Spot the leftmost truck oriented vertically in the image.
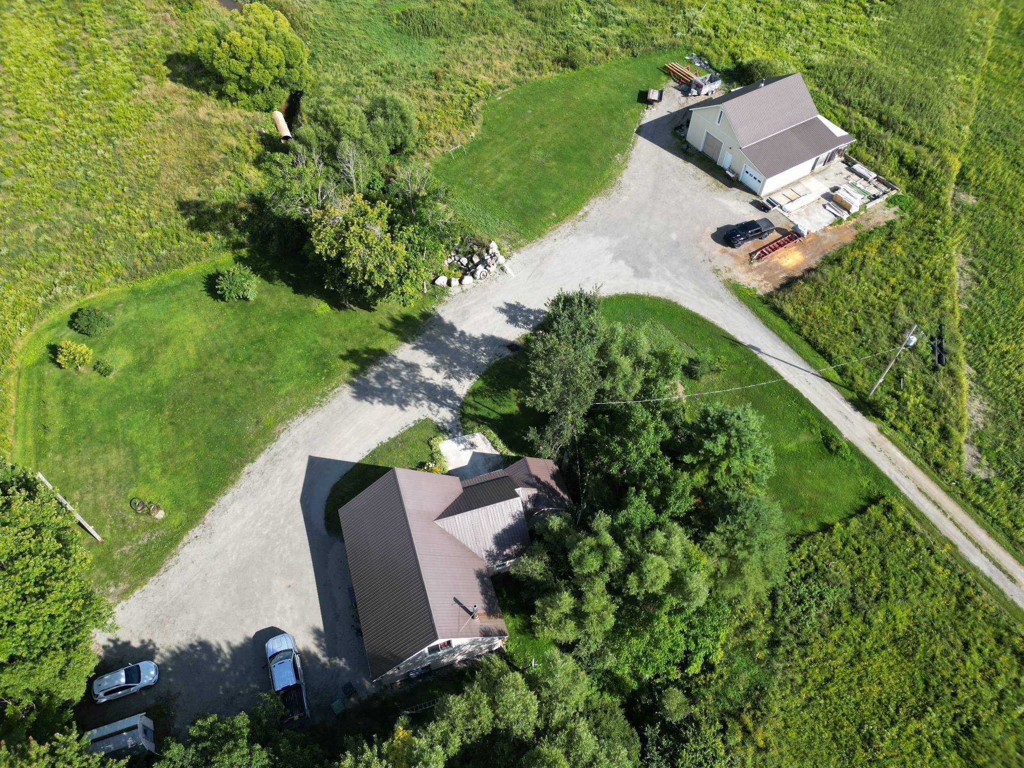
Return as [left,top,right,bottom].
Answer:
[263,626,313,728]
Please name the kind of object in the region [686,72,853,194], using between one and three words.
barn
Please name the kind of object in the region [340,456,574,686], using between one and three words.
house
